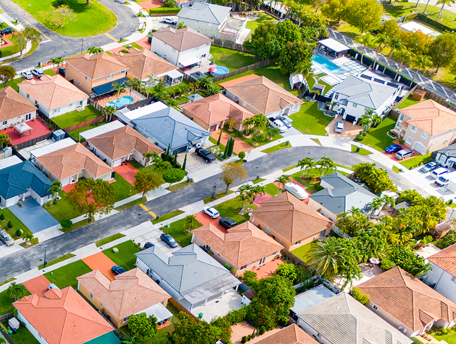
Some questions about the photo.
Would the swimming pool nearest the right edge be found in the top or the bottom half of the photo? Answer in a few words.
top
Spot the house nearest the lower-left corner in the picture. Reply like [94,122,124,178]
[15,282,120,344]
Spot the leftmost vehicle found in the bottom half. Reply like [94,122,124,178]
[0,227,16,245]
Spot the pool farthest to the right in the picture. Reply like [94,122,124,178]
[311,54,348,74]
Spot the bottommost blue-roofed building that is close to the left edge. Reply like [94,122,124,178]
[0,155,51,208]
